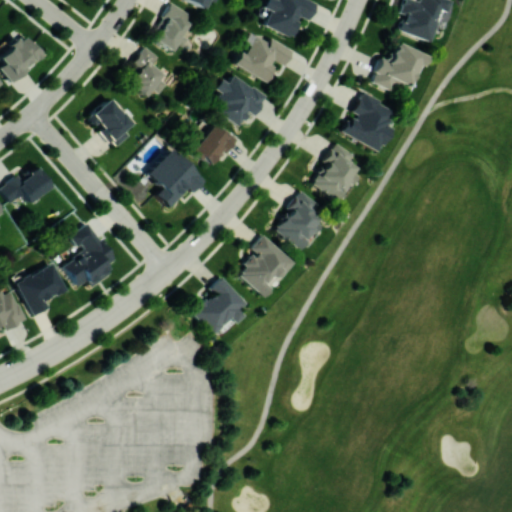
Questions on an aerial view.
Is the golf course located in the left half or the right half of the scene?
right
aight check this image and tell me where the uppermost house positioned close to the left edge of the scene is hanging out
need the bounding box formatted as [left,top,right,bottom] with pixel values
[0,36,46,79]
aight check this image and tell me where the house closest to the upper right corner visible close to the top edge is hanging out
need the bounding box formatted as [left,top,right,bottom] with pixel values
[402,0,454,40]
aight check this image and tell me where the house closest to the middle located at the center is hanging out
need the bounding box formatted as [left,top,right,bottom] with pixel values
[237,234,296,297]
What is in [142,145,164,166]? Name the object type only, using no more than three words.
swimming pool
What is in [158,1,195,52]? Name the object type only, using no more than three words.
house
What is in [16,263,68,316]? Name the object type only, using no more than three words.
house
